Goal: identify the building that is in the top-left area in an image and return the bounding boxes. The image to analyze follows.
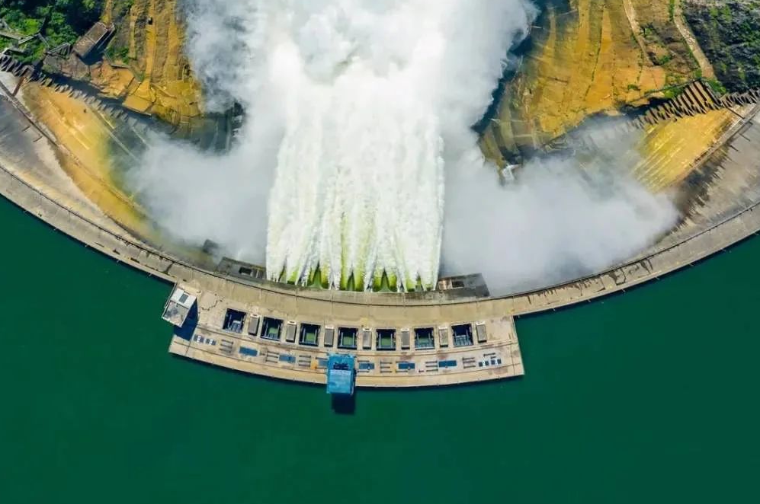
[73,21,111,57]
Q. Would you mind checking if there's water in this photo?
Yes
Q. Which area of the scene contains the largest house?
left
